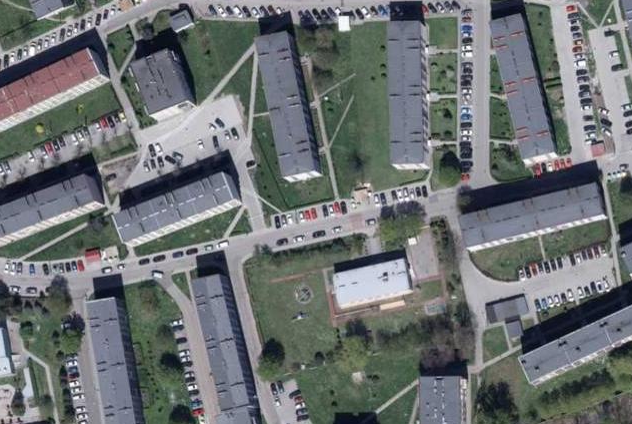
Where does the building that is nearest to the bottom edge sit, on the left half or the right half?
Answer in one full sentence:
You can find the building that is nearest to the bottom edge on the right side of the picture.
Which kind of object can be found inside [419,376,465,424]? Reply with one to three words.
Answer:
building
